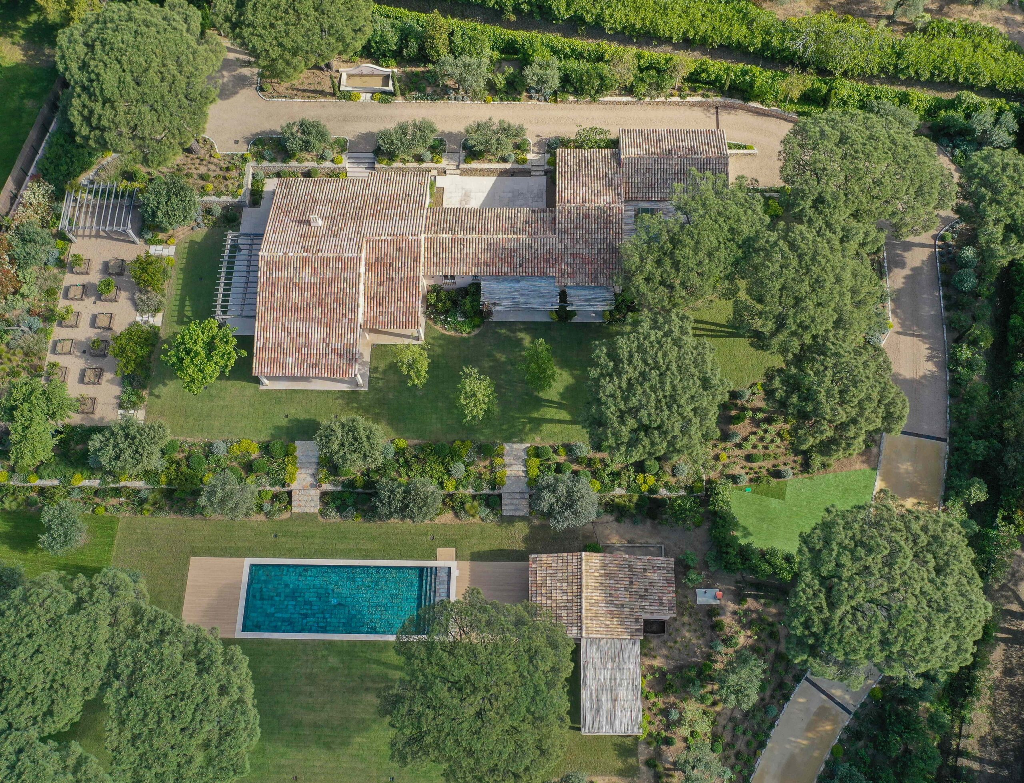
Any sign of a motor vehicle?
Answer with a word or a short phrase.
No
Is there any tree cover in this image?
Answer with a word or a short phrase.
Yes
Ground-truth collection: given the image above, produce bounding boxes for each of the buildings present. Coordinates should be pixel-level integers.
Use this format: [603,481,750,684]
[527,551,679,640]
[252,126,731,390]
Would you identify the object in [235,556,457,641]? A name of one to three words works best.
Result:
swimming pool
